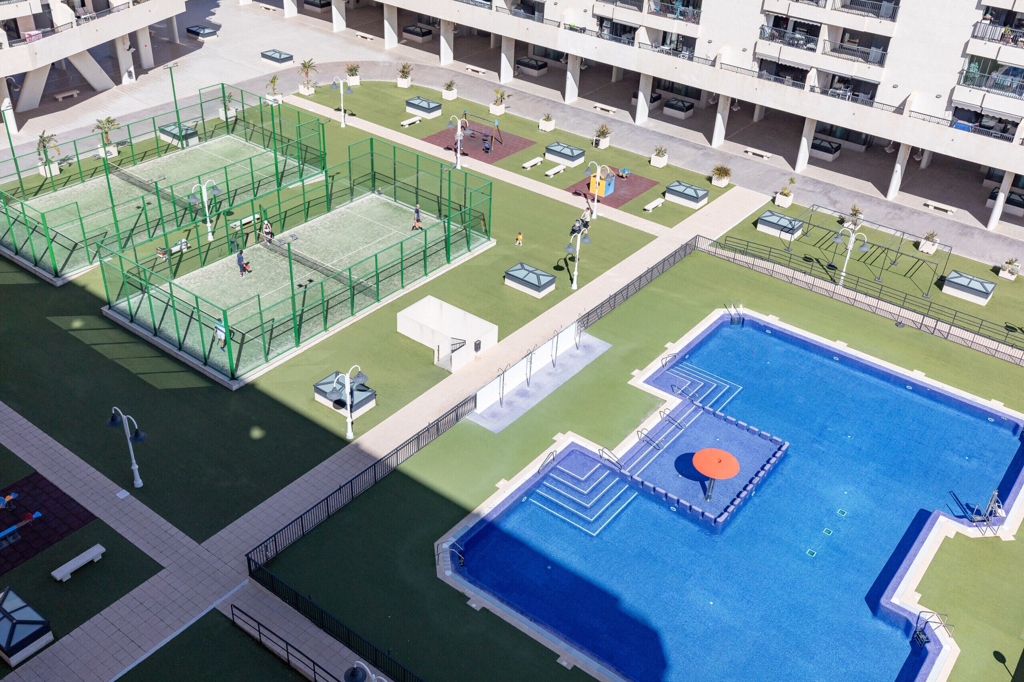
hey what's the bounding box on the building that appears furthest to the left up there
[0,0,186,89]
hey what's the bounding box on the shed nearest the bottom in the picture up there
[397,295,498,373]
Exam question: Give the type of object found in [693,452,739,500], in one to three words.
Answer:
fountain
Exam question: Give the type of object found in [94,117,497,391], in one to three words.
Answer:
sports court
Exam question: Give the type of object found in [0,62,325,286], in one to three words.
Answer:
sports court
